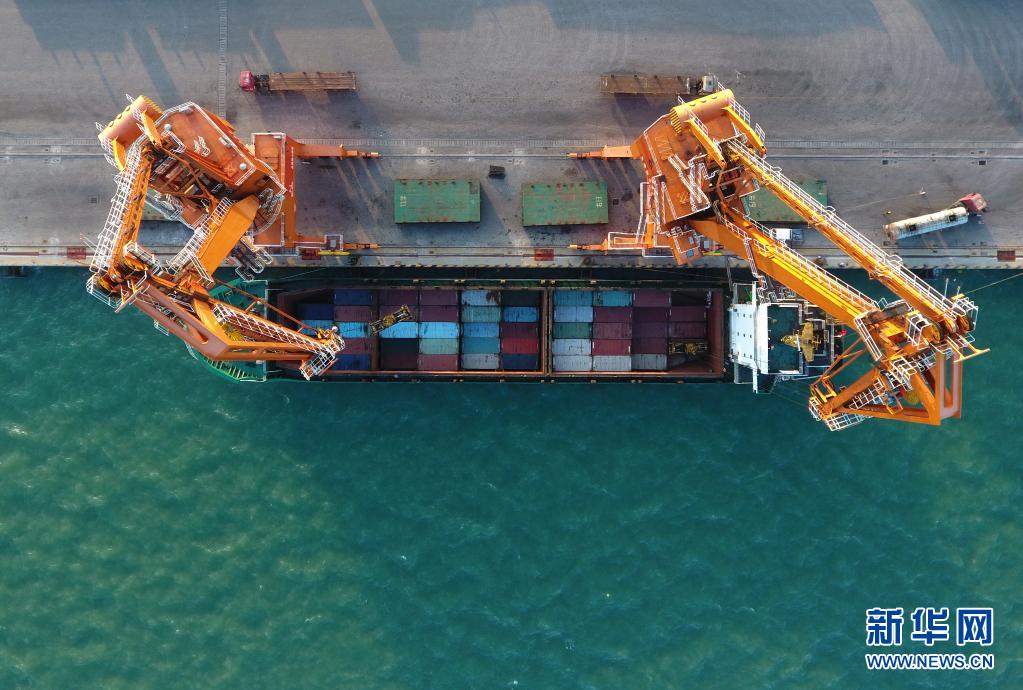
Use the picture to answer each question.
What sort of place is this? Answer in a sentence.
The area seen from above is a port.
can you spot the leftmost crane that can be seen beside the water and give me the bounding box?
[78,89,394,377]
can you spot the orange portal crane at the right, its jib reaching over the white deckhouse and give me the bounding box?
[569,81,984,428]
